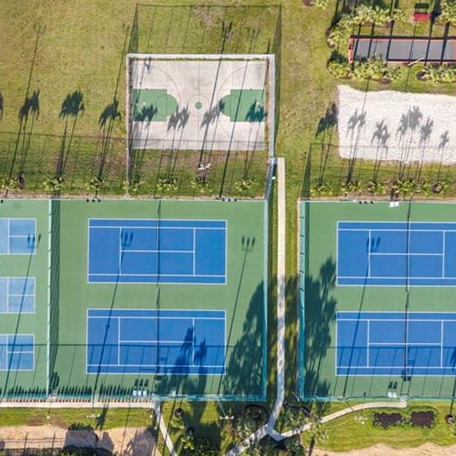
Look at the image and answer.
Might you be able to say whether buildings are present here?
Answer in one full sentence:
No, this view has no building in it.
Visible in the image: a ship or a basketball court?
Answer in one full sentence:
This aerial view contains a basketball court.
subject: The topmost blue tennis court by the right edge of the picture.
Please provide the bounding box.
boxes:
[337,216,456,292]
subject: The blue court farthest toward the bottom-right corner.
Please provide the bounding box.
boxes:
[336,306,456,383]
